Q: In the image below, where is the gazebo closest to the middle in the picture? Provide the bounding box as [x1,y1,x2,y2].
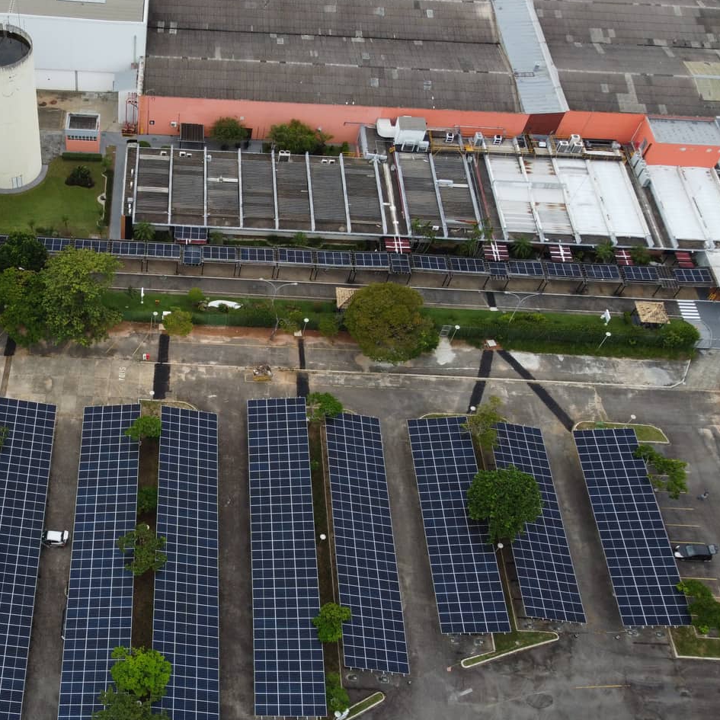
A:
[333,287,361,320]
